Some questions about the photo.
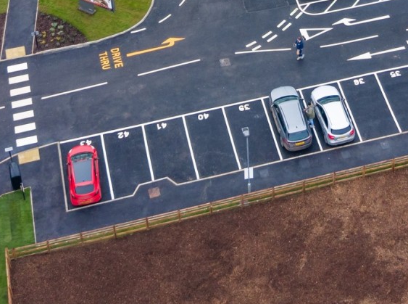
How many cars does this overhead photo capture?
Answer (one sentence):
Looking from above, you can make out 3 cars.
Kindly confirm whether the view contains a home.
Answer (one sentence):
No, there appears to be no home in this shot.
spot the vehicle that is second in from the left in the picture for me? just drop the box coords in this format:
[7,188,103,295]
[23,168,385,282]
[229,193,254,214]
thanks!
[266,89,319,154]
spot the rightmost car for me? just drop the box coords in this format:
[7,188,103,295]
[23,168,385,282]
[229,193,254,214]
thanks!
[307,89,361,147]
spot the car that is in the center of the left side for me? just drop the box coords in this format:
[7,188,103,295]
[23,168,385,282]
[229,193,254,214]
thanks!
[65,146,105,212]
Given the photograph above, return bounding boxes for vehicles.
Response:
[65,146,105,212]
[266,89,319,154]
[307,89,361,147]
